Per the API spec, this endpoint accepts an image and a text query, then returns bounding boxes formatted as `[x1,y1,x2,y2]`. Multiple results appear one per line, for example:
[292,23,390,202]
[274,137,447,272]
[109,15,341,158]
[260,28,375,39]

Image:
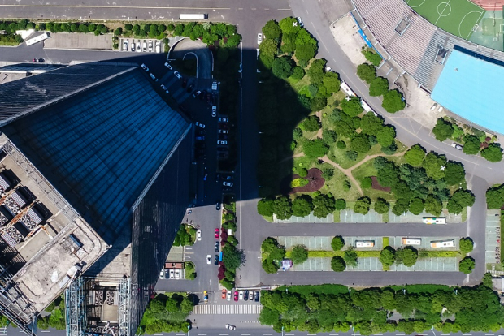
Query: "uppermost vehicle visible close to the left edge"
[25,31,54,46]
